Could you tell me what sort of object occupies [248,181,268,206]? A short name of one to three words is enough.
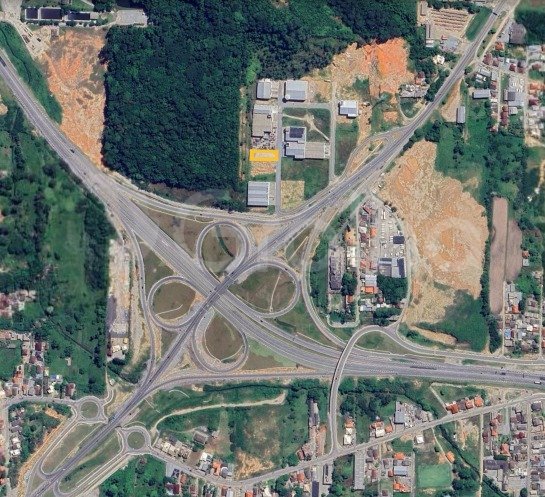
building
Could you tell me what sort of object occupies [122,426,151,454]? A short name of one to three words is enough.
roundabout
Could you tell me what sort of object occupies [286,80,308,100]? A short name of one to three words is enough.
building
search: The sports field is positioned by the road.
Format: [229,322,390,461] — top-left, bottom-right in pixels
[417,463,452,490]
